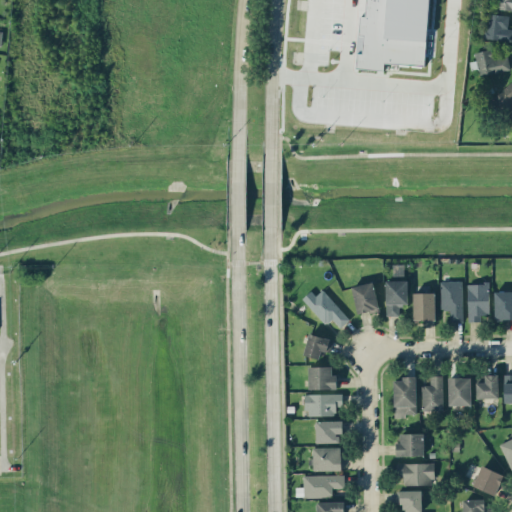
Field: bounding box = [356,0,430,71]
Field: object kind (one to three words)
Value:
building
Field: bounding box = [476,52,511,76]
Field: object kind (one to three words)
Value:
house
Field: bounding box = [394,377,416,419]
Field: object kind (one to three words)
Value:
house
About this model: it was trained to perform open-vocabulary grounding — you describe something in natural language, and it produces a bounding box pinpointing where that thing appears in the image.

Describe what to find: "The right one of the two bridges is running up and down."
[263,154,282,232]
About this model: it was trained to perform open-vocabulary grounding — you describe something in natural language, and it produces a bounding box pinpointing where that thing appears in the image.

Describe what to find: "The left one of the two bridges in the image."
[228,154,247,232]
